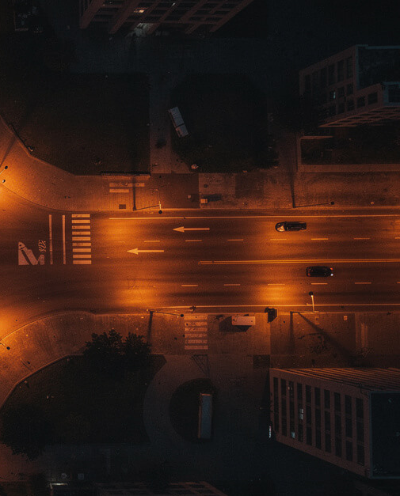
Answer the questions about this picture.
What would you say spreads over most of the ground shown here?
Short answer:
paved ground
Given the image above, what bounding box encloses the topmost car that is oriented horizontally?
[276,220,309,233]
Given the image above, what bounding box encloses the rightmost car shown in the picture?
[308,265,336,278]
